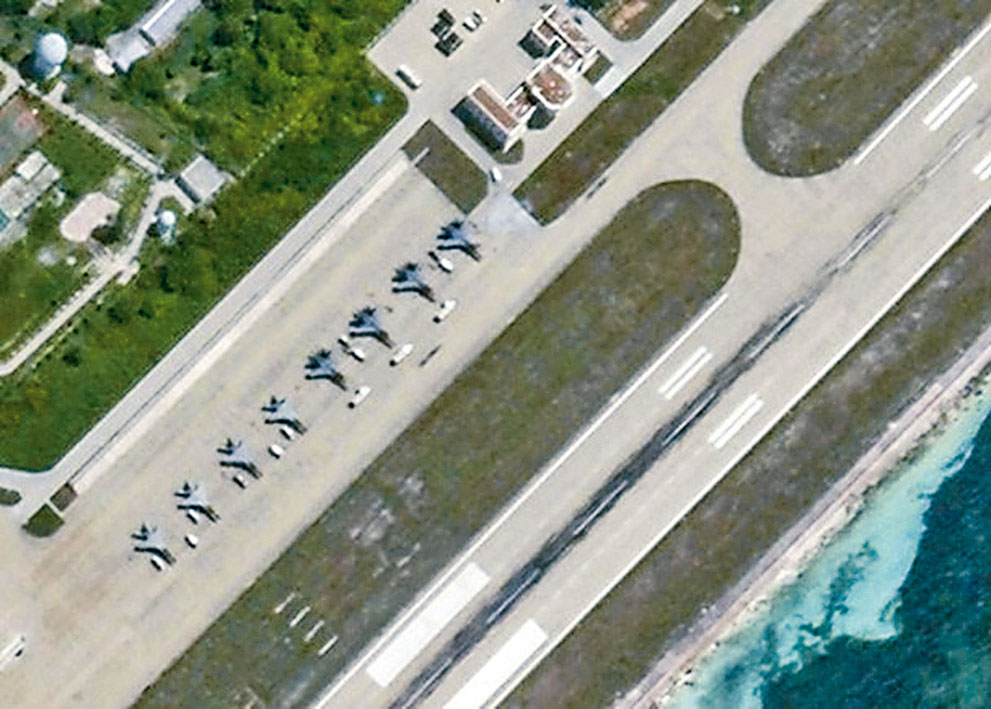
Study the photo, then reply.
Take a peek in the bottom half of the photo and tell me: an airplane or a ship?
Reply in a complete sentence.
You can see an airplane in the bottom half of the photo.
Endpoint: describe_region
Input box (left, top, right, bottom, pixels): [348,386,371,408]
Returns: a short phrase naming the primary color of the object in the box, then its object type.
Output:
white truck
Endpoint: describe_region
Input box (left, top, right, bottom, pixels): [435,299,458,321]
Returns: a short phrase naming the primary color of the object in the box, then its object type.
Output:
white truck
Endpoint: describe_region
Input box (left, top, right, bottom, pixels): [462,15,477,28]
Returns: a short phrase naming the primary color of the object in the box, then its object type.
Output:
white vehicle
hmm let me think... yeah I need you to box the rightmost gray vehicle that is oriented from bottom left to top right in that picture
[587,178,606,197]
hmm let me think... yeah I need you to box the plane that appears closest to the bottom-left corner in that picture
[125,515,173,558]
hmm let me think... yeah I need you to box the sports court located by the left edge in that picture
[0,96,49,172]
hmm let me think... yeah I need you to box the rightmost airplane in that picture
[435,214,481,255]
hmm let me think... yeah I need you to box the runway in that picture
[315,20,991,709]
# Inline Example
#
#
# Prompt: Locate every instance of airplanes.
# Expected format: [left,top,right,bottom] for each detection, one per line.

[257,386,305,429]
[389,253,436,296]
[301,341,348,385]
[346,299,394,341]
[125,515,173,558]
[435,214,481,255]
[213,429,260,472]
[170,473,219,517]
